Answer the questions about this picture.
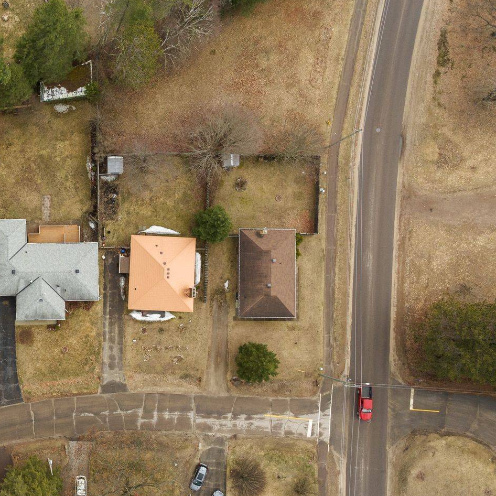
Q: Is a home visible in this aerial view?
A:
Yes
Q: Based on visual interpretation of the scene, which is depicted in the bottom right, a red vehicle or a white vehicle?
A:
red vehicle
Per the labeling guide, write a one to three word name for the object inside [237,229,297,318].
house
